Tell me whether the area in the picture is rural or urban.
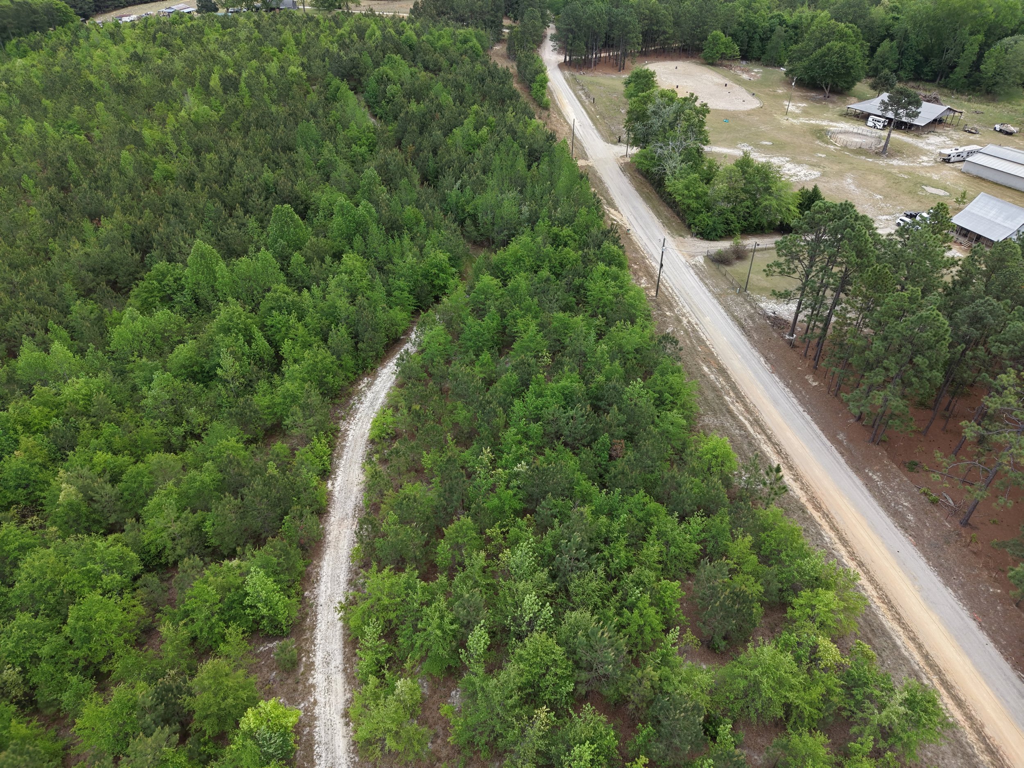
rural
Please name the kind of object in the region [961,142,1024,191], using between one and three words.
shed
